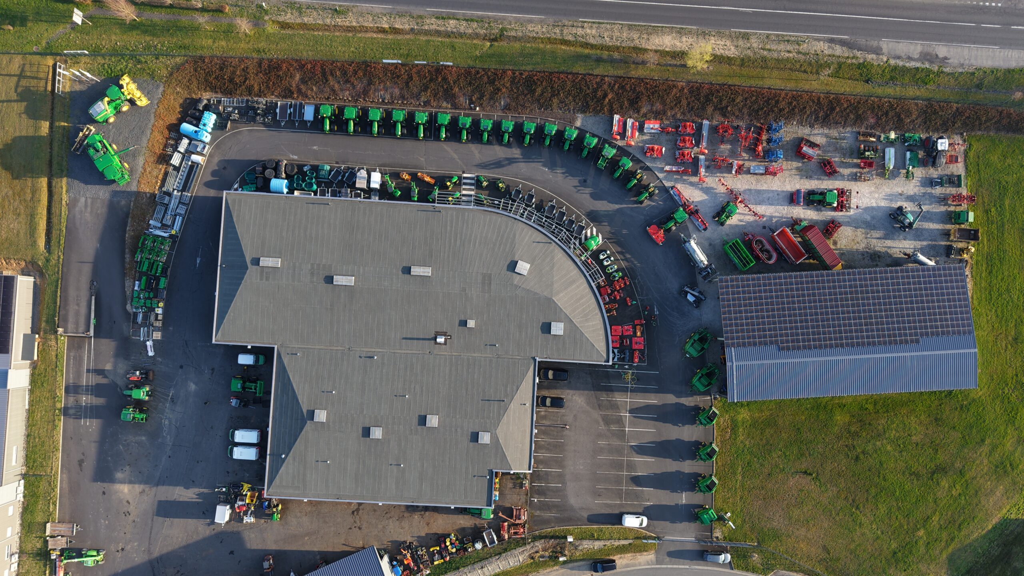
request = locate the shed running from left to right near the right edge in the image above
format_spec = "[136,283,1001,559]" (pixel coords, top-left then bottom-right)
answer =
[711,263,978,402]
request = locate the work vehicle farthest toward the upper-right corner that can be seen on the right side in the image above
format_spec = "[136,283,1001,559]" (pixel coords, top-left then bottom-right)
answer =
[922,136,950,172]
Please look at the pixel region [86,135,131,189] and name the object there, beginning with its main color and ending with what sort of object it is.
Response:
green work vehicle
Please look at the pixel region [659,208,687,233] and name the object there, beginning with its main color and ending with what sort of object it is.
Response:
green work vehicle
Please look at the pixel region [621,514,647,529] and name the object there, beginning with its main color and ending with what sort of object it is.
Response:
white vehicle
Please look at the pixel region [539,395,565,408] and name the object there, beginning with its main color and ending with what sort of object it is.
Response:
black vehicle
